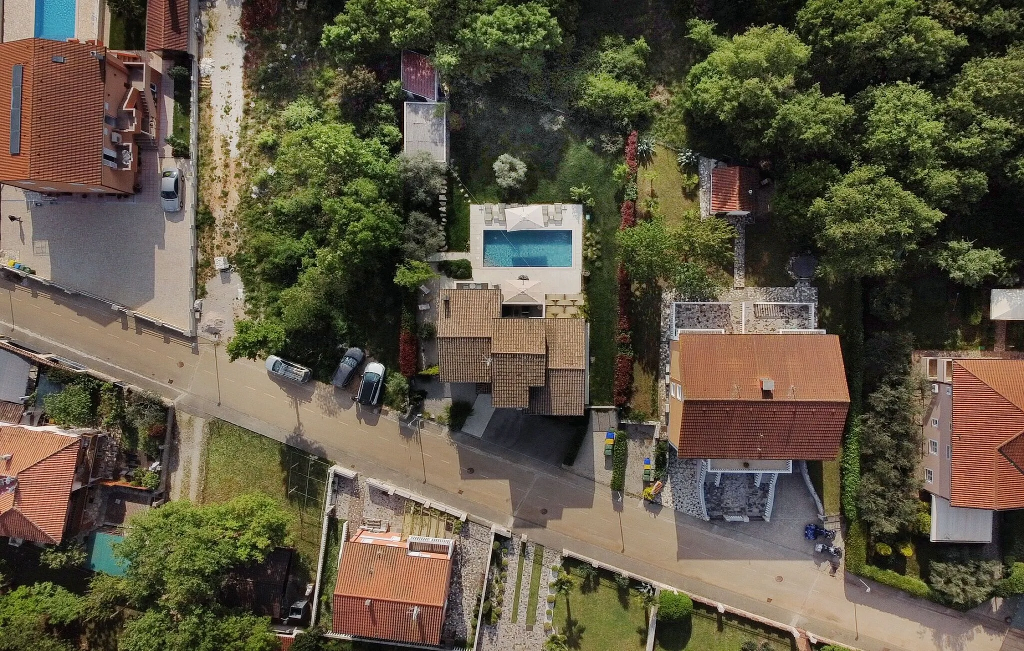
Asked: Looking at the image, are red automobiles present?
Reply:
No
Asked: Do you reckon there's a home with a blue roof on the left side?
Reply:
No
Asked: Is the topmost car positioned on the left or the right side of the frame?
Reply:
left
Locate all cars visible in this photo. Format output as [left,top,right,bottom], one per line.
[158,167,182,212]
[263,357,311,387]
[332,349,361,392]
[357,362,384,408]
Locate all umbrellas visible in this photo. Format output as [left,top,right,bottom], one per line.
[504,205,545,232]
[502,280,542,304]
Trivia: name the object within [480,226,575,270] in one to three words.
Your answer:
swimming pool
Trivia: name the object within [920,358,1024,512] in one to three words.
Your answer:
house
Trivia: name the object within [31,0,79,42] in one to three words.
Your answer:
swimming pool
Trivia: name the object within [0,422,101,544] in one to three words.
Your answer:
house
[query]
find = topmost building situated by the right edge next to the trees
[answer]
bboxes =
[971,289,1024,320]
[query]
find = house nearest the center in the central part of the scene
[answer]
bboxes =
[436,289,586,416]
